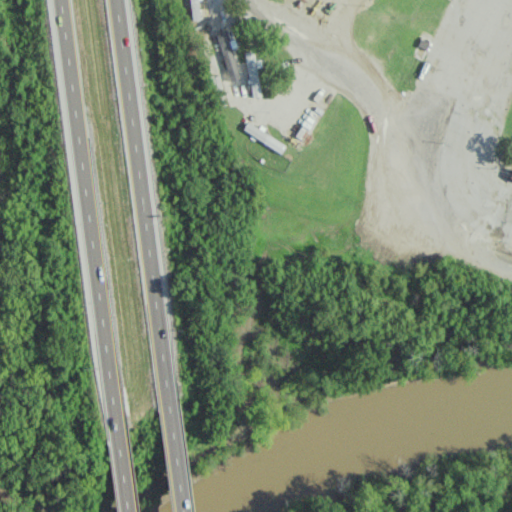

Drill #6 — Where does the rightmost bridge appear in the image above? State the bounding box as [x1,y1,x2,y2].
[158,406,194,512]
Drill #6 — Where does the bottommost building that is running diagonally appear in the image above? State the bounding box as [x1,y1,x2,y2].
[244,123,288,155]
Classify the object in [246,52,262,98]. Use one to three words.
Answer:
house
